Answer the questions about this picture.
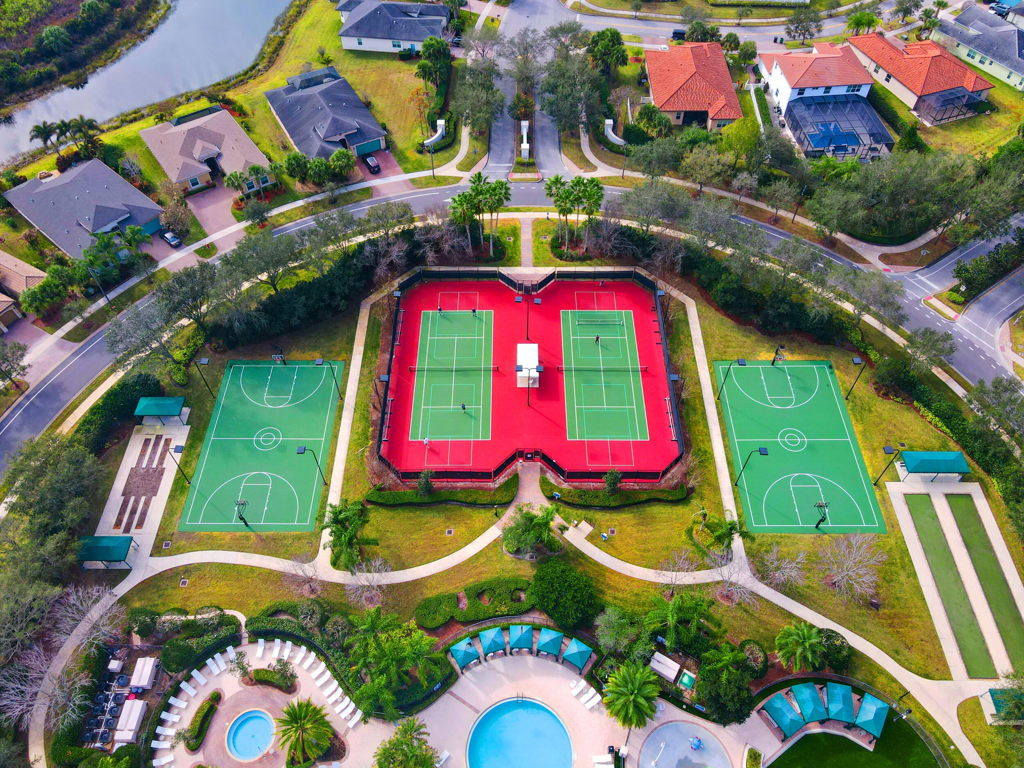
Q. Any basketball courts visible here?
Yes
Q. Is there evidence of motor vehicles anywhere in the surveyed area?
Yes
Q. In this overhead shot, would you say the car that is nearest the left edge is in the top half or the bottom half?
top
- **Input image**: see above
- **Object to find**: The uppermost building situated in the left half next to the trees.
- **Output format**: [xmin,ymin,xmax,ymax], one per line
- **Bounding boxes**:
[336,0,454,53]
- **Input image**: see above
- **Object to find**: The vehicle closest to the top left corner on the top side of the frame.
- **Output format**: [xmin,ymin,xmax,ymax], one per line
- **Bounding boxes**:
[158,226,182,246]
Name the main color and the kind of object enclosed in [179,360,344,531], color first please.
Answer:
green basketball court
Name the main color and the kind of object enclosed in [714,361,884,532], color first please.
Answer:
green basketball court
